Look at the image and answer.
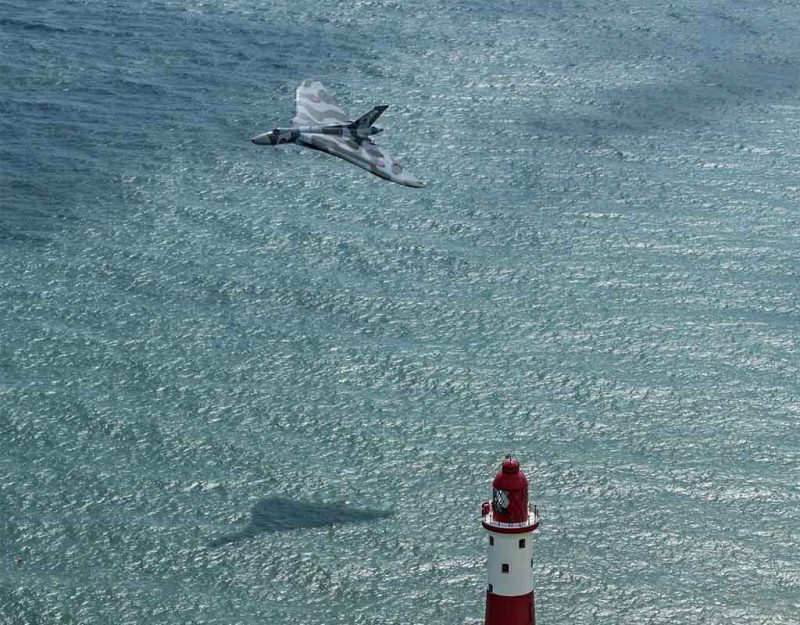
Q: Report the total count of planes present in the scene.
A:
1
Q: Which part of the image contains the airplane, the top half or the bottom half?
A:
top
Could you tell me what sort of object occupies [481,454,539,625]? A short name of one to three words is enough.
lighthouse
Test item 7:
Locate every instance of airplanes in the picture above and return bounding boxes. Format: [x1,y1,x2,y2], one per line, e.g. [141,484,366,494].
[252,80,427,187]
